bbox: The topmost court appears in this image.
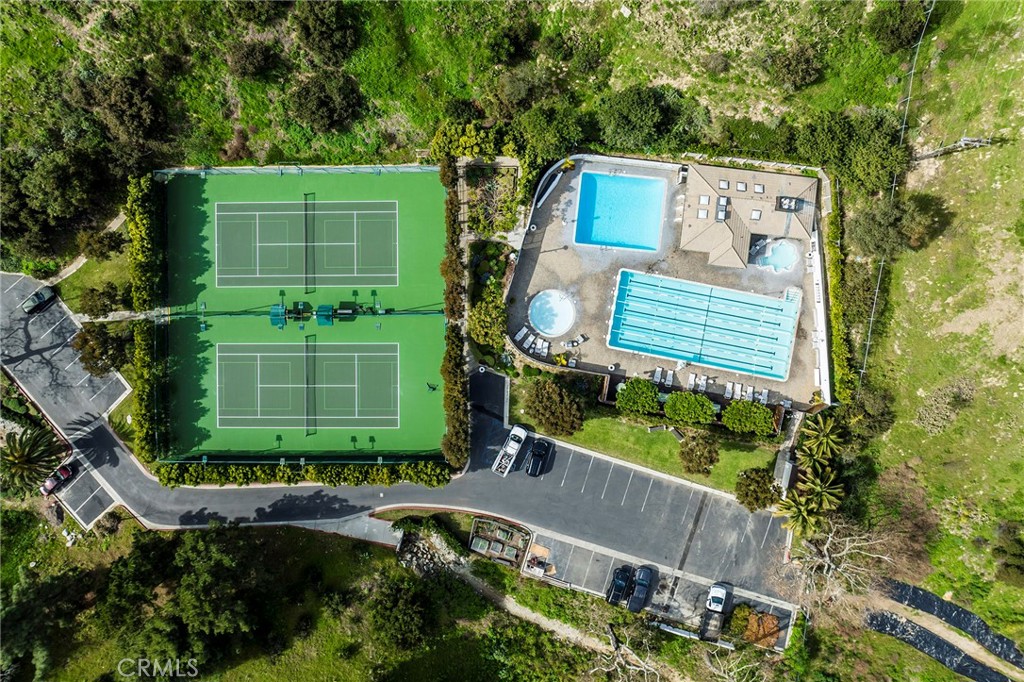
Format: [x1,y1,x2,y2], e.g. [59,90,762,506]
[167,169,446,317]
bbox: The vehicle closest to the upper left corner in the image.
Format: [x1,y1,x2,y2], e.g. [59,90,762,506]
[15,284,54,316]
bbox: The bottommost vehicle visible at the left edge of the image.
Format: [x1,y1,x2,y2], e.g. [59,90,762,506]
[35,465,71,498]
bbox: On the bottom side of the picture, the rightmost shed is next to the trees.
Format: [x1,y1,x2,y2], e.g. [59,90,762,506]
[773,459,793,496]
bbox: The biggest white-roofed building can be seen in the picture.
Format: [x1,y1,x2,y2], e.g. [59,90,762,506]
[677,164,818,269]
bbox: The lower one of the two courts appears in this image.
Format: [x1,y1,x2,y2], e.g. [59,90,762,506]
[167,317,446,461]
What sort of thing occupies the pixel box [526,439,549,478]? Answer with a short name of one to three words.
car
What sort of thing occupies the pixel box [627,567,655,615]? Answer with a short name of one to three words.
truck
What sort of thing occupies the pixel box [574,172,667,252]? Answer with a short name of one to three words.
swimming pool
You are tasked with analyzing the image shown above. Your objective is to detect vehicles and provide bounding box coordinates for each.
[35,465,71,498]
[607,565,633,609]
[627,567,655,615]
[702,584,728,646]
[494,428,525,475]
[15,284,54,316]
[526,439,549,478]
